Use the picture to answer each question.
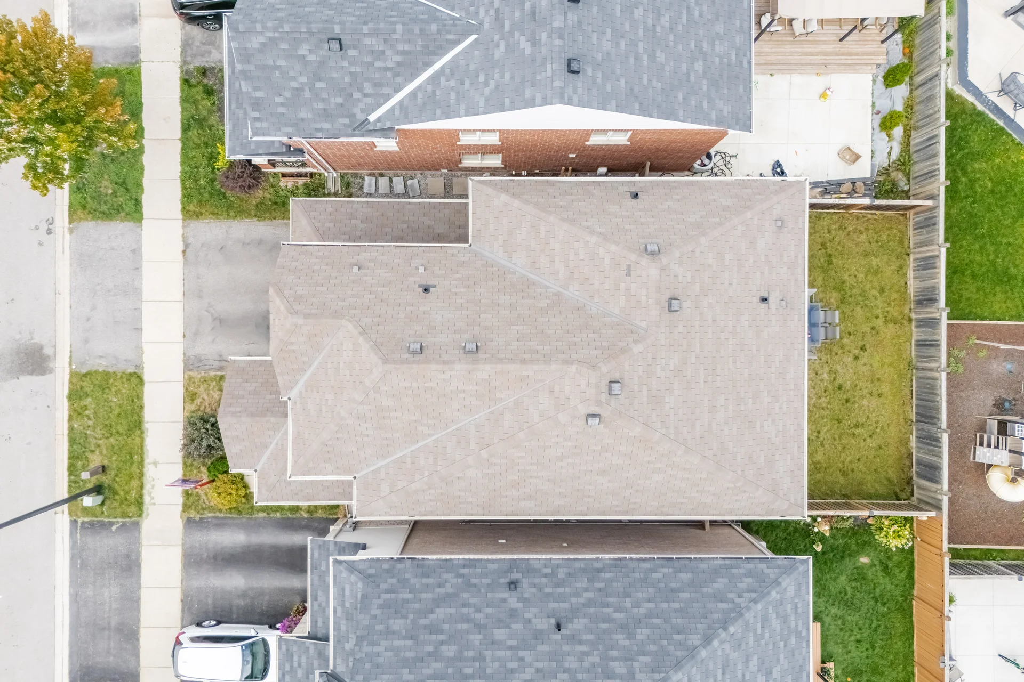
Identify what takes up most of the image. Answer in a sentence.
For the most part, this view shows buildings.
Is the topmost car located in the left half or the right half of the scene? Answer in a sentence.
It is on the left.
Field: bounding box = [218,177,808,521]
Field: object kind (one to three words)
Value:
house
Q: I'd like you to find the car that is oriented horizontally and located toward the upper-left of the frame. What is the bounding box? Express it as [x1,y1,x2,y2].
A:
[173,0,240,27]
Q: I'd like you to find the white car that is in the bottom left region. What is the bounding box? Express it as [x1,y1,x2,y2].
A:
[172,617,301,682]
